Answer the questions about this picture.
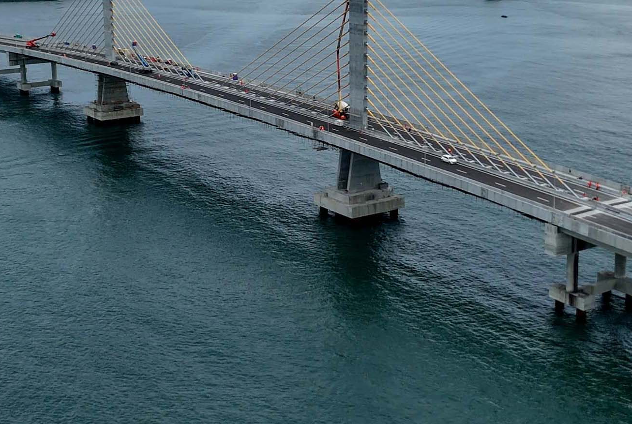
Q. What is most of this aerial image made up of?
water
